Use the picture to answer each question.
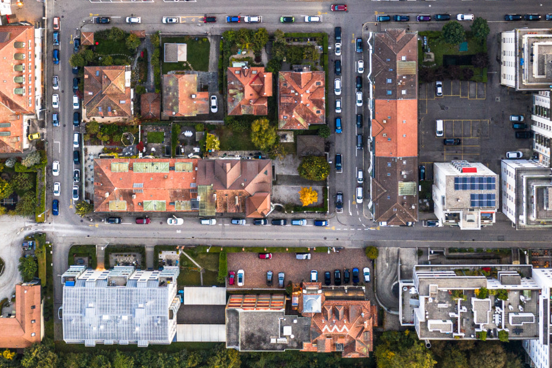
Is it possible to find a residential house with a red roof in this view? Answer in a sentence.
Yes, the frame does contain a residential house with a red roof.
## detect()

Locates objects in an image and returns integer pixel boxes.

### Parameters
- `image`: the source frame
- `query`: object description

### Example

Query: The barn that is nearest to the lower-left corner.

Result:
[0,280,45,348]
